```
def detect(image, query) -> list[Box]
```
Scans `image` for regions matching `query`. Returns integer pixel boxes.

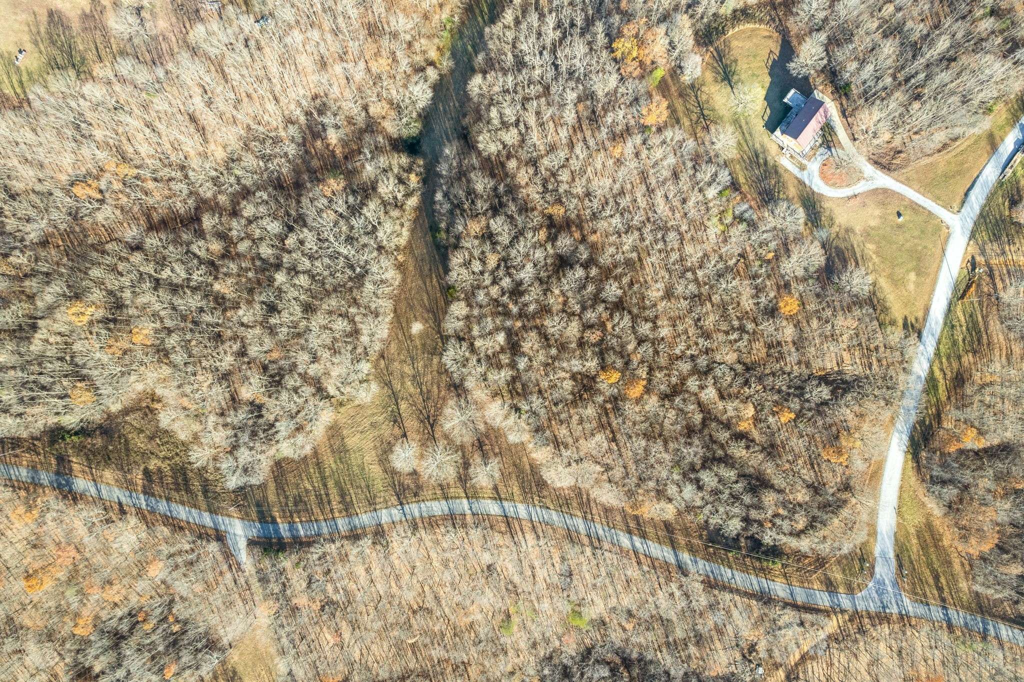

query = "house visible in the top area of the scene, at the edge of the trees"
[764,86,830,167]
